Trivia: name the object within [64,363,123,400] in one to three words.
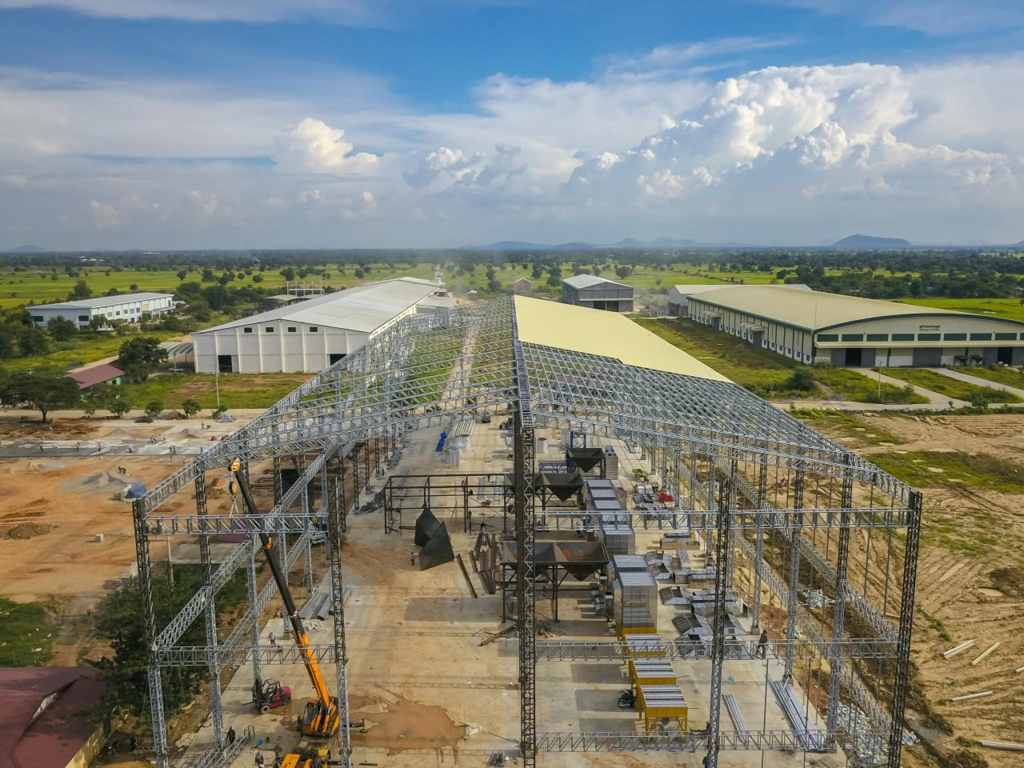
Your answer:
building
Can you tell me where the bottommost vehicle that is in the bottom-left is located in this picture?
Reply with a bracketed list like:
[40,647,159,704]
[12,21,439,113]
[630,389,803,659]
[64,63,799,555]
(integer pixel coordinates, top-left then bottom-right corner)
[240,680,295,717]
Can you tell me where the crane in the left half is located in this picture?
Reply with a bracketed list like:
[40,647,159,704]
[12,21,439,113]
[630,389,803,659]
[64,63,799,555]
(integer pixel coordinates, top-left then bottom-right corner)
[224,454,374,768]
